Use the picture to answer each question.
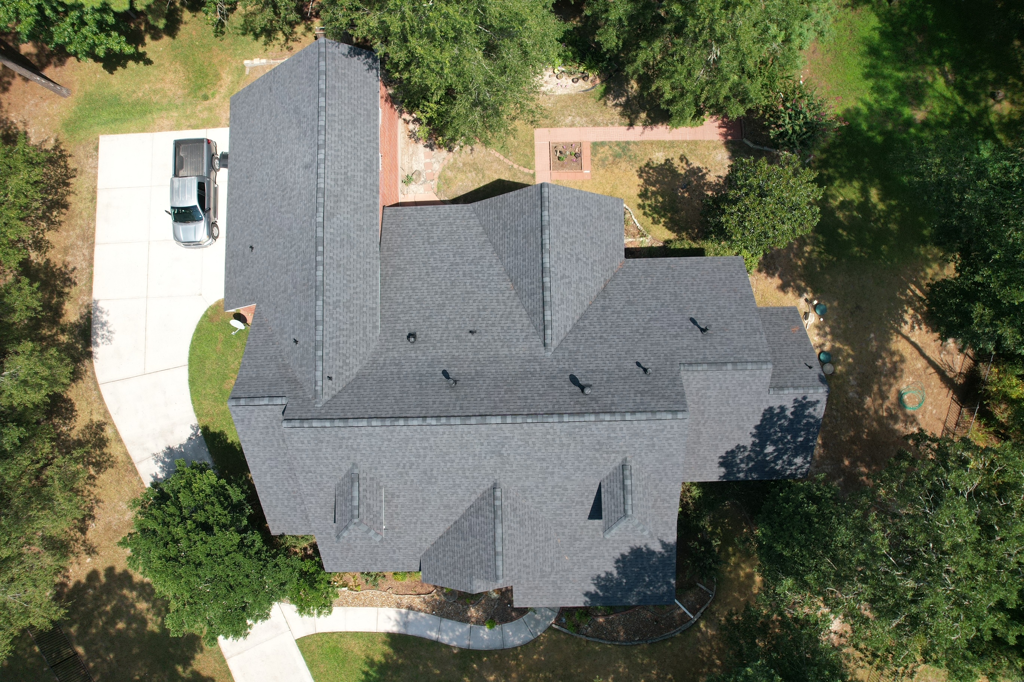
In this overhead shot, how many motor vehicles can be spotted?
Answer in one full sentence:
My tally gives 1 motor vehicle in this photo.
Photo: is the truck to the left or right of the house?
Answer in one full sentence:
You can see the truck positioned to the left of the house.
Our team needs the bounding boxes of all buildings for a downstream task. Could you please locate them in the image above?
[224,36,828,604]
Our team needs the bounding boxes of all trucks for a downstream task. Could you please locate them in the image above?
[166,138,222,249]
